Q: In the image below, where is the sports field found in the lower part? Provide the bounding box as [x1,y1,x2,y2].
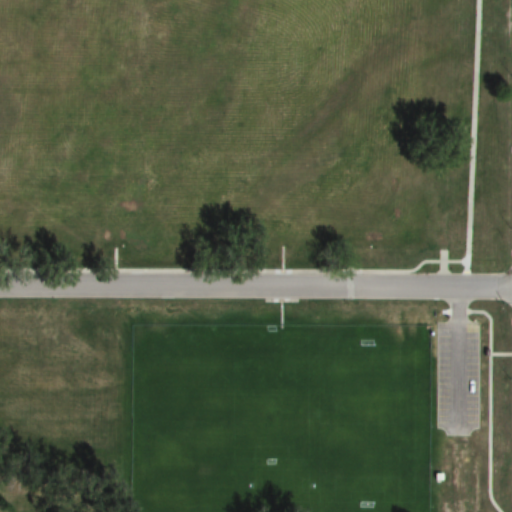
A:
[134,324,432,512]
